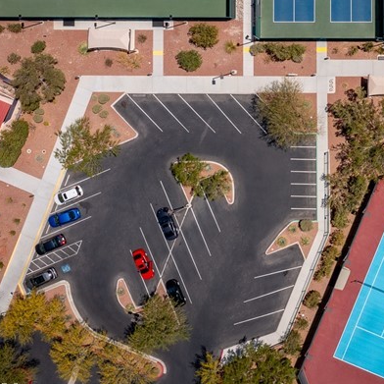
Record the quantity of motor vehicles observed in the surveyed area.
7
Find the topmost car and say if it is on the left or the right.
left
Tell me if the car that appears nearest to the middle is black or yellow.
black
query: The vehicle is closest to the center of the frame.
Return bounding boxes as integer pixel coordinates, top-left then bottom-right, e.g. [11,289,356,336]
[156,206,179,240]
